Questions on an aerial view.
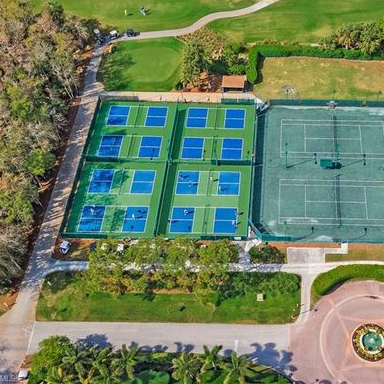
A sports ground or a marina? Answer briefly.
sports ground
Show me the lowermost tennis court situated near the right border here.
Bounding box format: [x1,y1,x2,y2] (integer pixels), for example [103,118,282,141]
[252,166,384,246]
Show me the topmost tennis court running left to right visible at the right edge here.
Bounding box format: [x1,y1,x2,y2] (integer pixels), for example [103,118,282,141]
[255,105,384,169]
